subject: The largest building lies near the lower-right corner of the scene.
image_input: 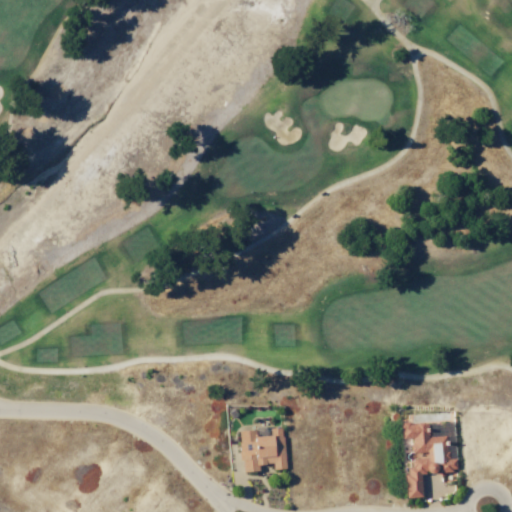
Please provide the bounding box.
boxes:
[404,414,460,499]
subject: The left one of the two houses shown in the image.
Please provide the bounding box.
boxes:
[242,427,287,474]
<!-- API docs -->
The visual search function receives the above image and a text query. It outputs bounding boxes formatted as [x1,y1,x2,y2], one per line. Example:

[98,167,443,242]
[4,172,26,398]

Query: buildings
[242,427,287,474]
[404,414,460,499]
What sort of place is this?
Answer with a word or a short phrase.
golf course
